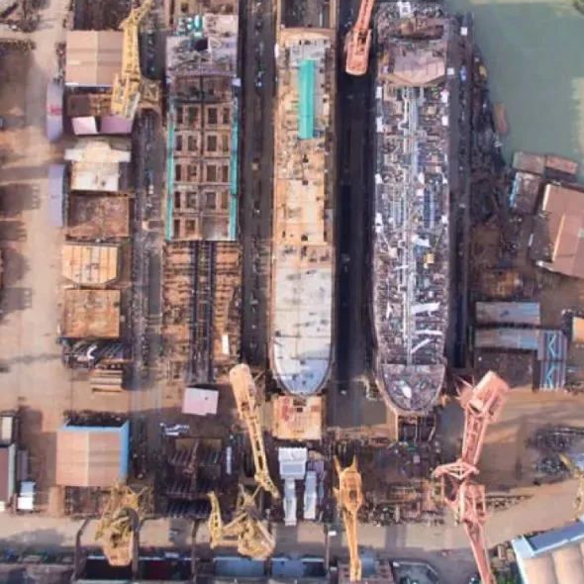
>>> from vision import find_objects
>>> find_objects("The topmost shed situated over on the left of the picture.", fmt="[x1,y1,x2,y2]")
[66,28,129,89]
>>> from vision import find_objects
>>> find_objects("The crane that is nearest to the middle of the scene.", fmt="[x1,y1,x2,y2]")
[226,367,277,497]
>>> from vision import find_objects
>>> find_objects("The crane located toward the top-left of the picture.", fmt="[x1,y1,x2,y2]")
[112,1,157,109]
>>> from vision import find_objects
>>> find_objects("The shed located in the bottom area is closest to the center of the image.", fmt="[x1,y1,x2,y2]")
[183,386,217,416]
